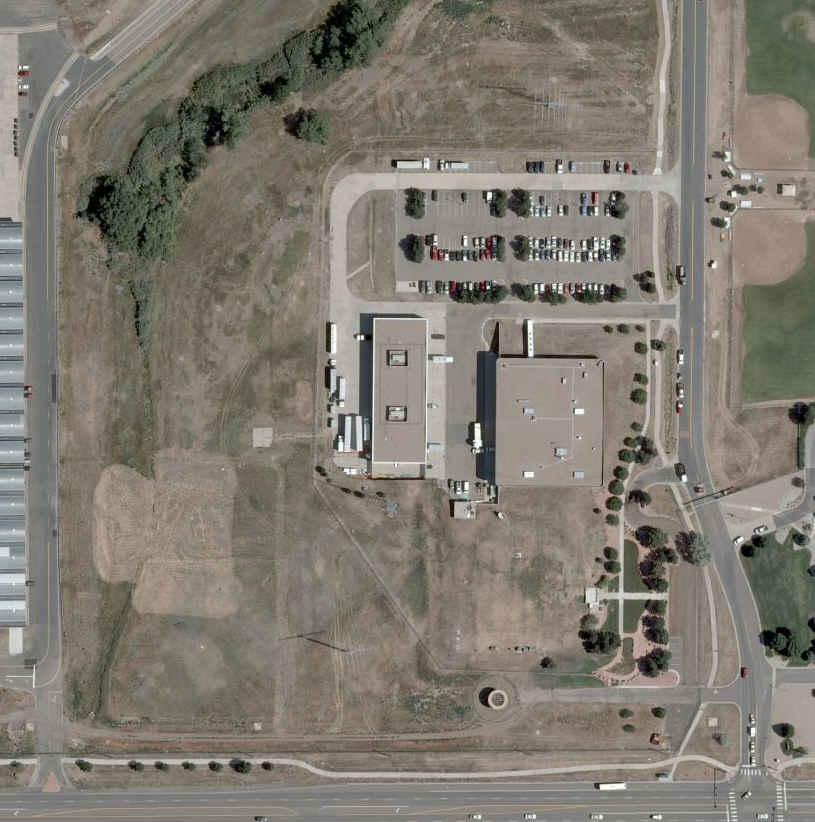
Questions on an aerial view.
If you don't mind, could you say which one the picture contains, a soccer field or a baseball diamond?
baseball diamond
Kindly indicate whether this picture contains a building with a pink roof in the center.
No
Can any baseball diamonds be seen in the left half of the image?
No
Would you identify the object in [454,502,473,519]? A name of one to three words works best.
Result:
shed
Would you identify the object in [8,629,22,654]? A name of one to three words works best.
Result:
shed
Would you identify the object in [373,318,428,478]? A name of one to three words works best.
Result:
building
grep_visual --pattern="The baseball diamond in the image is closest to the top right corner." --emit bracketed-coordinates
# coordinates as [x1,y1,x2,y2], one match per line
[735,0,815,169]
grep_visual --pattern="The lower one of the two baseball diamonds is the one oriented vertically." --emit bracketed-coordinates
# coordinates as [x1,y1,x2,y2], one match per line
[736,210,815,403]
